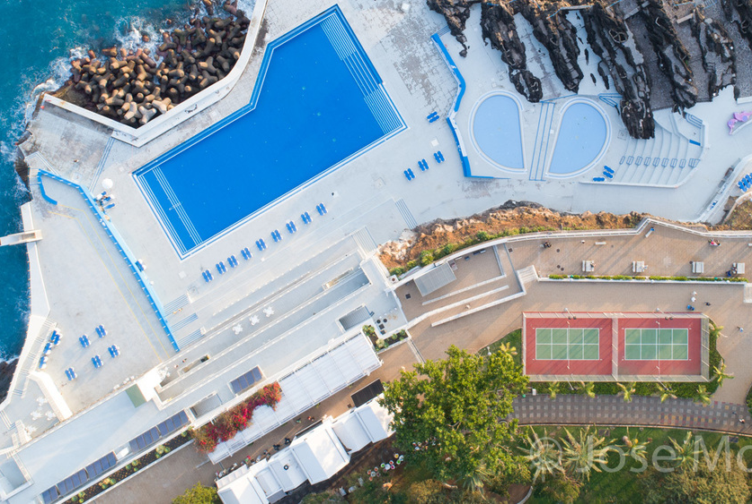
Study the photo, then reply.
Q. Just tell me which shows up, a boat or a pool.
pool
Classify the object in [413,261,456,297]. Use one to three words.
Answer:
building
